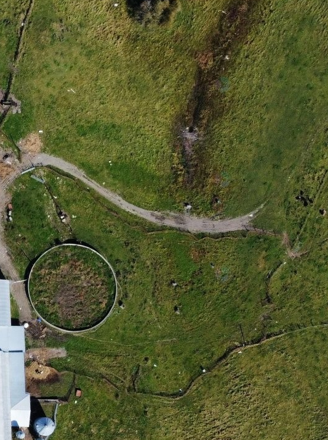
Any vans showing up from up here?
No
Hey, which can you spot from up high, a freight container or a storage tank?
storage tank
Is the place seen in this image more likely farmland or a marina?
farmland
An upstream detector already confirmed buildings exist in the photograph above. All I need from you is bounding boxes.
[0,279,10,328]
[0,349,30,440]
